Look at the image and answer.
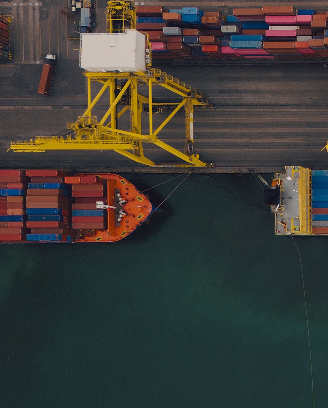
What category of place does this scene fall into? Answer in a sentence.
What you see here is a port.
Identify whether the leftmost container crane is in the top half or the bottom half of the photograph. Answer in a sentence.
The leftmost container crane is in the top half of the image.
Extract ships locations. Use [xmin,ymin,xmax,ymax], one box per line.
[0,173,165,244]
[265,168,328,237]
